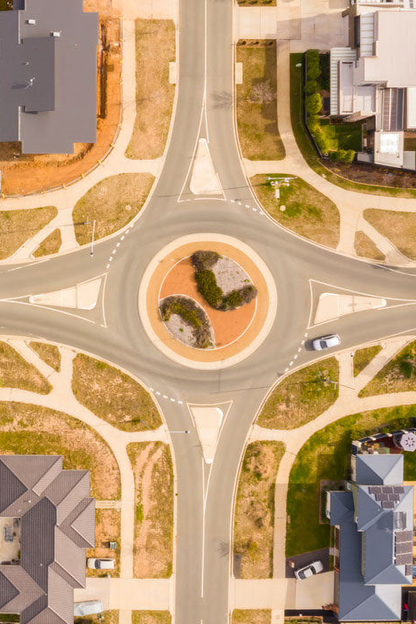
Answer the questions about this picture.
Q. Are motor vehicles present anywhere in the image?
Yes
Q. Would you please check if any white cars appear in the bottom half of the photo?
Yes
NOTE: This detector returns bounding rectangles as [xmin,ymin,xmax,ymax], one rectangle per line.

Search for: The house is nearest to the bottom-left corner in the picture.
[0,454,96,624]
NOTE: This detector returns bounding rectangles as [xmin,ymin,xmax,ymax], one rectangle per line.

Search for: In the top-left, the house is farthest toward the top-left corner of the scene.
[0,0,97,157]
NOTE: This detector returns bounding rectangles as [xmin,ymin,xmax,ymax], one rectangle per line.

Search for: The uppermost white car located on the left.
[86,556,115,572]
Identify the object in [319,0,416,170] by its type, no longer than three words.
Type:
house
